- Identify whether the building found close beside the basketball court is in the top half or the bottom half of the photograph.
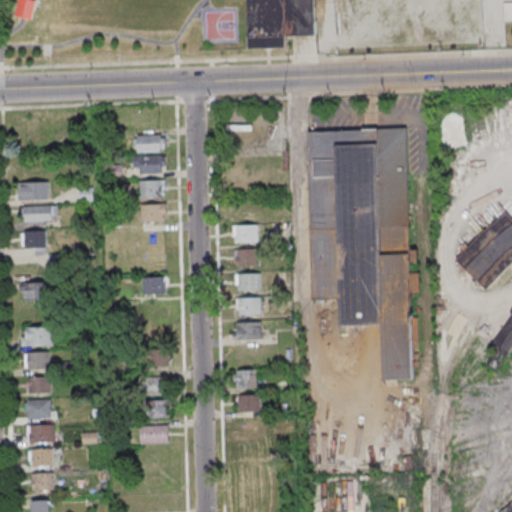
top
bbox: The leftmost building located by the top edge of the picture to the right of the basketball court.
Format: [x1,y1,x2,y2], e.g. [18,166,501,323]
[247,0,314,49]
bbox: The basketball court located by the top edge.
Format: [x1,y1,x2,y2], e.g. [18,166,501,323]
[203,8,238,43]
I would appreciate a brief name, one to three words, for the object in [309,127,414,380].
building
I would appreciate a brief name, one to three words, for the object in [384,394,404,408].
vehicle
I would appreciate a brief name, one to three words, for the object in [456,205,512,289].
shed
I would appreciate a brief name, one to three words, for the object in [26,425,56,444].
house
